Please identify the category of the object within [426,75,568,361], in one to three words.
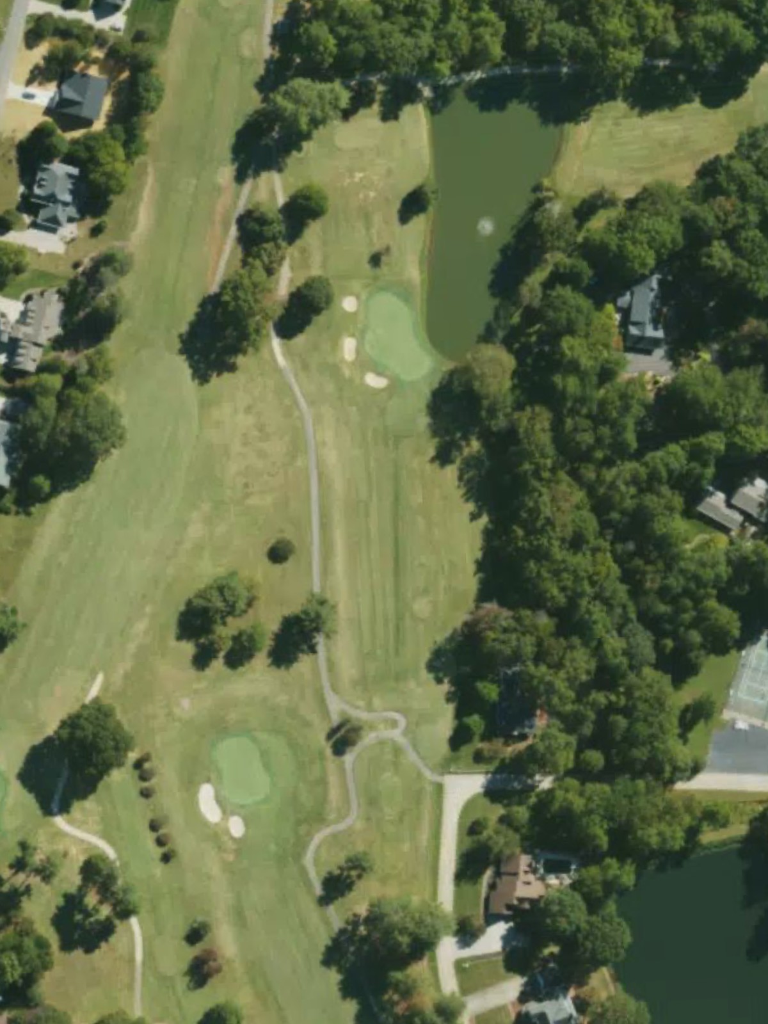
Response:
pond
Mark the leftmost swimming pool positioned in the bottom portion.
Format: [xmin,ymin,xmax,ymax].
[538,853,576,879]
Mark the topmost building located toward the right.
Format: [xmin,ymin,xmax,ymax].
[614,270,669,350]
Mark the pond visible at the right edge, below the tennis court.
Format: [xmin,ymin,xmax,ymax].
[615,835,768,1024]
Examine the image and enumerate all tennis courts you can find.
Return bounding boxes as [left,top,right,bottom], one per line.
[720,617,768,718]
